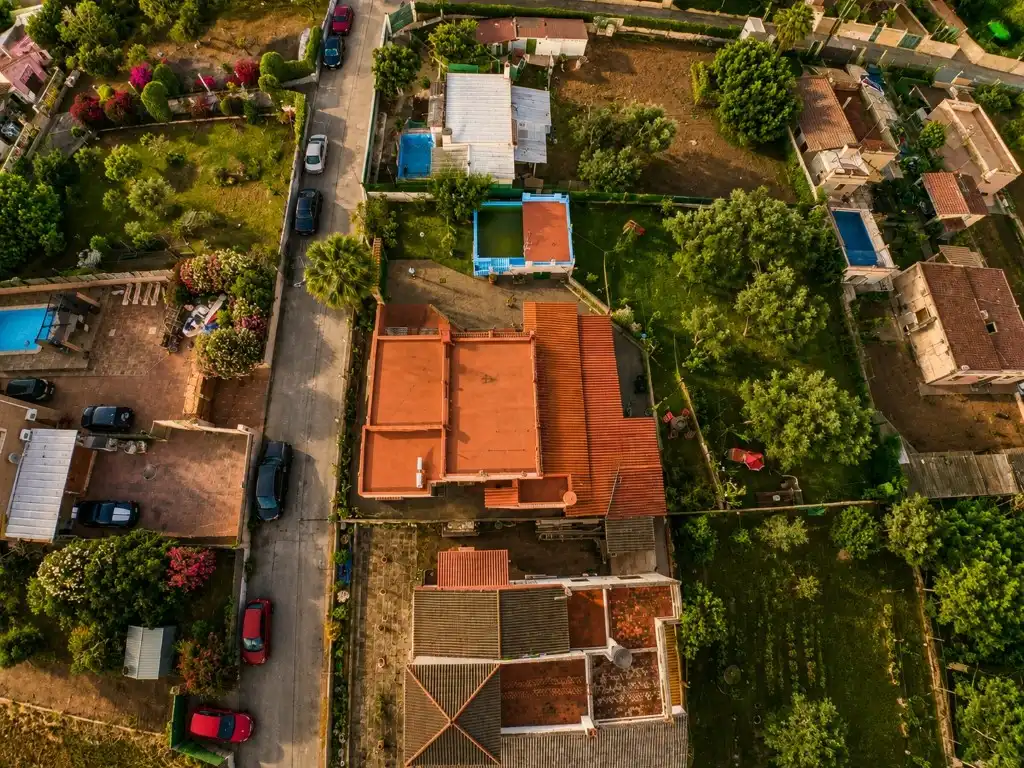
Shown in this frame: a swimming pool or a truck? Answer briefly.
swimming pool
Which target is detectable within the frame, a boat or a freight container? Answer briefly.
boat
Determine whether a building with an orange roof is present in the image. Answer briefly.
Yes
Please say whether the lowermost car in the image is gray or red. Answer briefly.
red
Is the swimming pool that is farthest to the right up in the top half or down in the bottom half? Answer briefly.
top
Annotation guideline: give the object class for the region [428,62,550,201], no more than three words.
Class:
house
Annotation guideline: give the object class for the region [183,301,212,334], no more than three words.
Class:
boat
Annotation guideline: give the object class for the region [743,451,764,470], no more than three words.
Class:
umbrella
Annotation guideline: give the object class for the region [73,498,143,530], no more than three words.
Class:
car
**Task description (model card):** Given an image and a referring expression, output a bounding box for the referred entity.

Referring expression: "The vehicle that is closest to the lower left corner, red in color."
[187,704,256,746]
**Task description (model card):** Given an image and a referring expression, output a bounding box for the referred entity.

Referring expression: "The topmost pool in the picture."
[396,132,434,187]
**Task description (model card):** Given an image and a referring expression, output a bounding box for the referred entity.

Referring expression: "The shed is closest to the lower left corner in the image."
[124,624,181,679]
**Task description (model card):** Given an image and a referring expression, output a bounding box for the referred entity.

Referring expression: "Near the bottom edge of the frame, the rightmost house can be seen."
[404,571,695,768]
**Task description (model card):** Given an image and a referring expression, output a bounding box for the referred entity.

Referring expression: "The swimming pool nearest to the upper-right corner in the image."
[823,205,897,294]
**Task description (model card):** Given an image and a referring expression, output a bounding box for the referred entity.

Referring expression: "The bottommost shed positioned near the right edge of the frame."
[885,448,1024,499]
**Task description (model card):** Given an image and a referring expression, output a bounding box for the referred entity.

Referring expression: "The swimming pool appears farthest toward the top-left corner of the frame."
[0,286,111,381]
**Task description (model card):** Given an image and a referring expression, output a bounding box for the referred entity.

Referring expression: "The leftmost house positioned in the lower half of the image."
[0,394,108,548]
